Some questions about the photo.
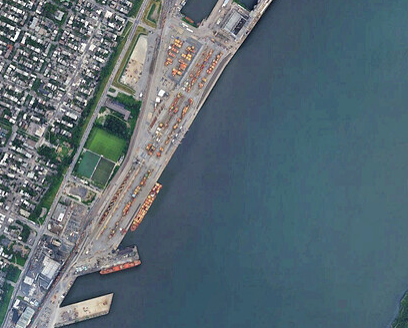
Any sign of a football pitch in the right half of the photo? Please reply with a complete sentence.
No, there's no football pitch to be seen in the right half of the photo.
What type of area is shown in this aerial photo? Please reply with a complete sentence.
The area seen from above is a port.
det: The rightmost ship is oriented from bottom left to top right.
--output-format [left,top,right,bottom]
[132,183,162,231]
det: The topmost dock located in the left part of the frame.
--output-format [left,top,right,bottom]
[77,246,140,276]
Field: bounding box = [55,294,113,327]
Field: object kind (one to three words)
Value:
pier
